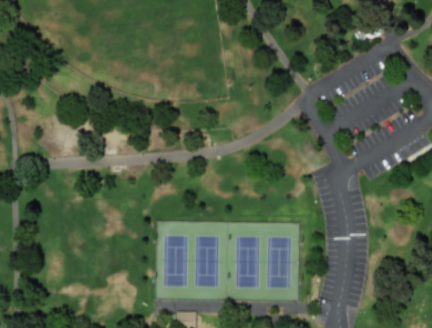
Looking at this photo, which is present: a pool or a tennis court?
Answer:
tennis court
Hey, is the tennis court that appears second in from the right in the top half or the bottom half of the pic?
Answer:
bottom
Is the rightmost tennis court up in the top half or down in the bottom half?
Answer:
bottom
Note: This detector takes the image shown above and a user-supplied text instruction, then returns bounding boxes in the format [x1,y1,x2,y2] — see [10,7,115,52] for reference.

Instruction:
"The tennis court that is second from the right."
[228,222,264,300]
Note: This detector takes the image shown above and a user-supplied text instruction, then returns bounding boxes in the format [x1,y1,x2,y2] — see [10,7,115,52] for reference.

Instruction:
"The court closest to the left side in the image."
[158,222,192,300]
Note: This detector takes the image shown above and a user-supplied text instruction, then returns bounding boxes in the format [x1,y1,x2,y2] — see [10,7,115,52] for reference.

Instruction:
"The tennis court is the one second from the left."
[192,222,228,300]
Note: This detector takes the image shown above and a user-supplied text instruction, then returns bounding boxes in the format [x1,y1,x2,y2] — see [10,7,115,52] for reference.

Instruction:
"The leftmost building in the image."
[176,312,198,328]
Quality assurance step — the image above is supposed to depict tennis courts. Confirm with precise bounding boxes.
[264,222,300,300]
[228,222,264,300]
[158,222,192,300]
[192,222,228,300]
